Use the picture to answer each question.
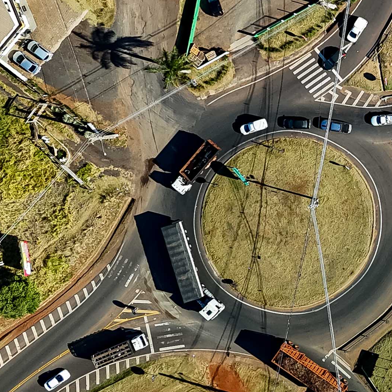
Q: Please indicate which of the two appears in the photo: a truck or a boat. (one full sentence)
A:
Of the two, only a truck appears.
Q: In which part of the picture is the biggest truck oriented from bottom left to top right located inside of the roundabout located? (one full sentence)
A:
Look in the center portion of the view to spot the biggest truck oriented from bottom left to top right located inside of the roundabout.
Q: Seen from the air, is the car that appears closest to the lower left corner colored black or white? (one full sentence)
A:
The car that appears closest to the lower left corner is white.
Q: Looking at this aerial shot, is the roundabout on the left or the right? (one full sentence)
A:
The roundabout sits on the right side.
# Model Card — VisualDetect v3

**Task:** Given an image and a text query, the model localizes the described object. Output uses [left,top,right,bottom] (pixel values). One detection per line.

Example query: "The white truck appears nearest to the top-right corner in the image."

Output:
[345,15,370,45]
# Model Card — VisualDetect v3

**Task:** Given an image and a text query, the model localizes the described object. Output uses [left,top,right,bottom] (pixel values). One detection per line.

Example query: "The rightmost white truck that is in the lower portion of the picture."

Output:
[198,278,225,321]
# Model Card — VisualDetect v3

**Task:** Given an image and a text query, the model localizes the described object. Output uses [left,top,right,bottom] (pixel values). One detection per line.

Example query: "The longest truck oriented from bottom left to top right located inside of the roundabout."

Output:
[170,143,215,192]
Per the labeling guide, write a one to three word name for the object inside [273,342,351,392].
trailer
